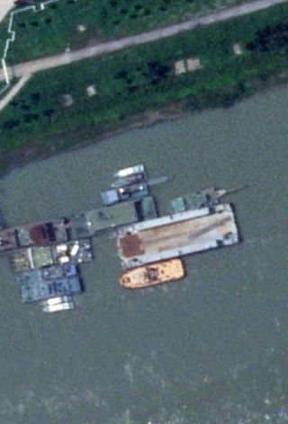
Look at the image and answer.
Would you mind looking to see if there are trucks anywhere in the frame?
No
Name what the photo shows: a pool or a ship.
ship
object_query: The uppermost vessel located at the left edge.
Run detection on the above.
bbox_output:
[12,238,93,272]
